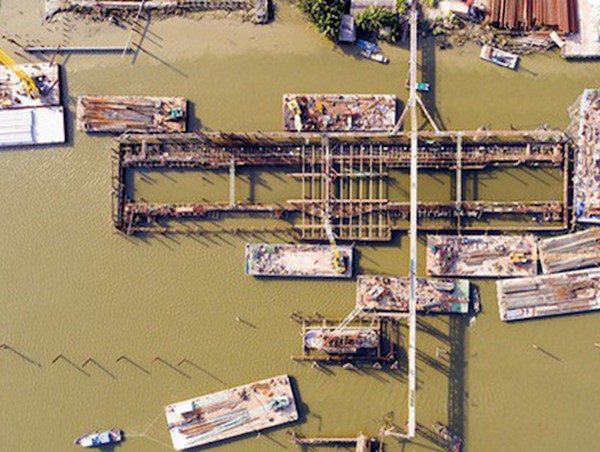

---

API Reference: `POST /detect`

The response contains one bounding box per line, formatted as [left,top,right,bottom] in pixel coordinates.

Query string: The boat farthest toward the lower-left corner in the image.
[74,429,124,447]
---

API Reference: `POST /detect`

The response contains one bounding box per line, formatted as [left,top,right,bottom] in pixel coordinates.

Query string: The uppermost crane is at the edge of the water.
[0,53,45,103]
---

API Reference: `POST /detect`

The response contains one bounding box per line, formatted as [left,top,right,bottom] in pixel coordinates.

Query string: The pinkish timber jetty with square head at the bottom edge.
[292,429,384,452]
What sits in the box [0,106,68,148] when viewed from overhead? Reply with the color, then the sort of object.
white ship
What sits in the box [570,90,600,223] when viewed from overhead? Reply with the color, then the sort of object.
white ship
